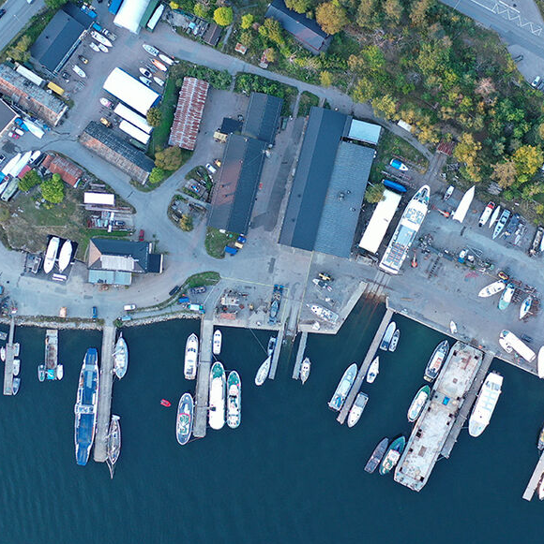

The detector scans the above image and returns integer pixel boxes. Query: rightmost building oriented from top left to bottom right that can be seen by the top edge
[265,0,331,54]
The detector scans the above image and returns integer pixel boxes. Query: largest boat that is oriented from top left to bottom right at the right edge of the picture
[502,331,541,366]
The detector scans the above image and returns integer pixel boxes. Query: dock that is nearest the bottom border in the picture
[523,449,544,501]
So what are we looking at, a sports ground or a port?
port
